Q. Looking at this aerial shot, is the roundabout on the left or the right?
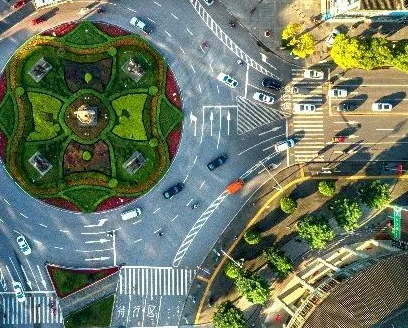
left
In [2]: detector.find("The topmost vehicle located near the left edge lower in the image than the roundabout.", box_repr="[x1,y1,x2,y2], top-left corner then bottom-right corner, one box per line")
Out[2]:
[15,232,32,256]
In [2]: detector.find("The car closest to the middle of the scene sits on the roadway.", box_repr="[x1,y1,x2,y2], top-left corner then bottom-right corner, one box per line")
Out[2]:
[206,152,229,172]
